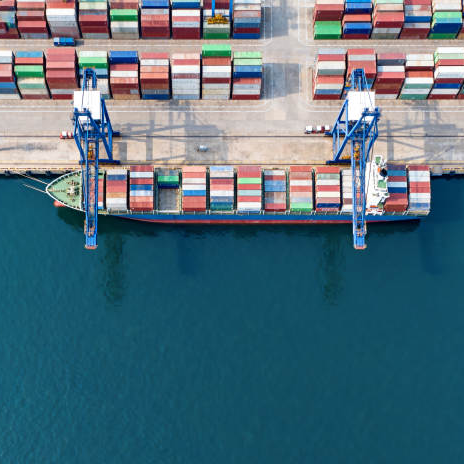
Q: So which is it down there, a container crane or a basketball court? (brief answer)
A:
container crane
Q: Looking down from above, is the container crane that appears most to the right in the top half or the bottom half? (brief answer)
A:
top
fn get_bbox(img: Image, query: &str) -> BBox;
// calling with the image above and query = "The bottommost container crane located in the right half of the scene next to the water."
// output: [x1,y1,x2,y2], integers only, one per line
[328,66,382,252]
